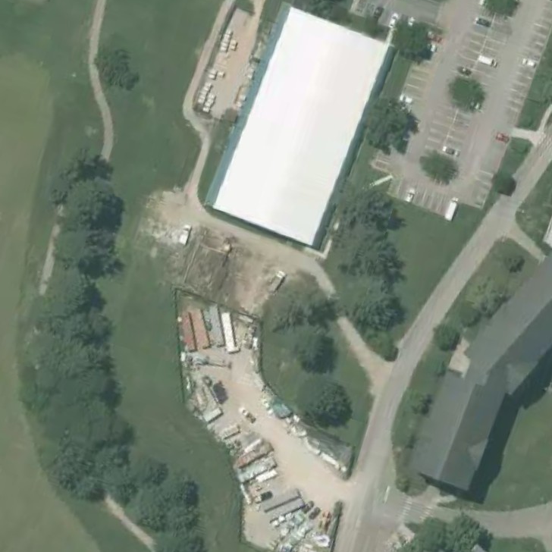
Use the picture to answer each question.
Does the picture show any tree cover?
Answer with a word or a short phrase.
Yes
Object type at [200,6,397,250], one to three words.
building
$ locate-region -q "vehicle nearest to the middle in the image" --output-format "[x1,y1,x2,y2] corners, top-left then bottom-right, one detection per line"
[269,271,284,290]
